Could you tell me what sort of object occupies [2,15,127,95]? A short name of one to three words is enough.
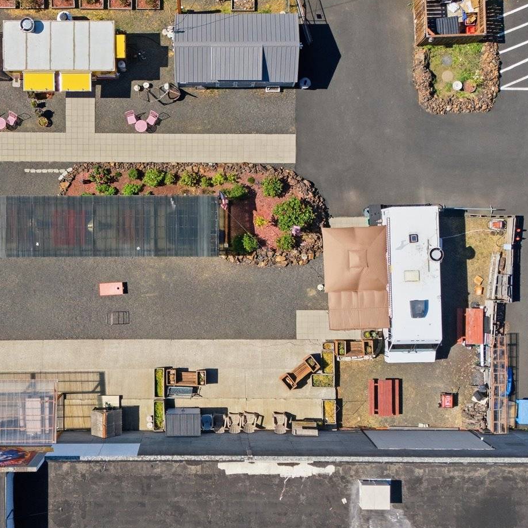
trailer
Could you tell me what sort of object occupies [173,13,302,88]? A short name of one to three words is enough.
building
